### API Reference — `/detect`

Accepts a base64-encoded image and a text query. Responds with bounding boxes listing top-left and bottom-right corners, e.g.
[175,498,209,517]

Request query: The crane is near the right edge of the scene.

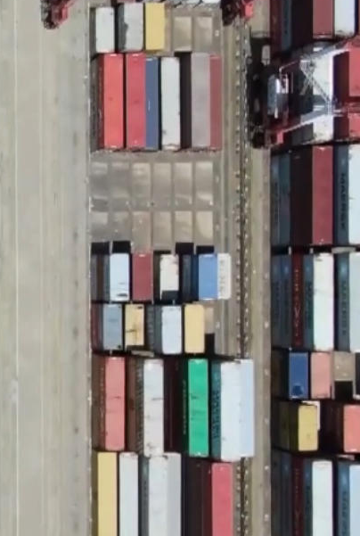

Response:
[251,30,360,153]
